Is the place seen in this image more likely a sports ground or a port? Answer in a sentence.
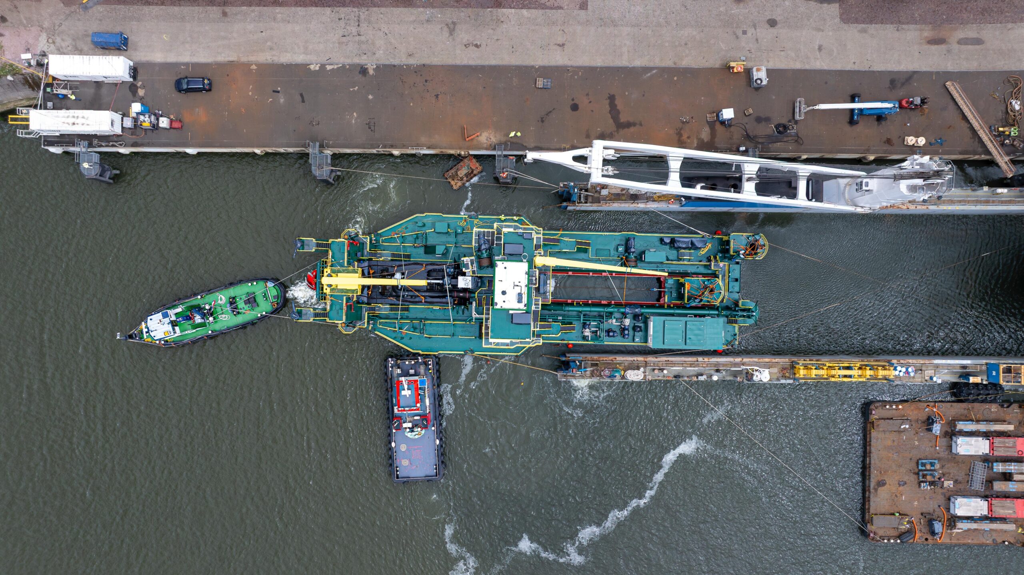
The picture captures a port.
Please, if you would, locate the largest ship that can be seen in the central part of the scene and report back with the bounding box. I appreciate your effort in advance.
[291,213,768,357]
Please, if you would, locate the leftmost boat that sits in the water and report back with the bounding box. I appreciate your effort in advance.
[117,275,289,348]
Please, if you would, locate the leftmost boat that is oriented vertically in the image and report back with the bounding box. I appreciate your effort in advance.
[384,353,446,486]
